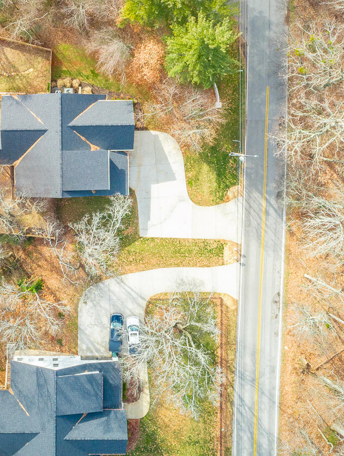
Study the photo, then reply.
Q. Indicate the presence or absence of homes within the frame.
Yes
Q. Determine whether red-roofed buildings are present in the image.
No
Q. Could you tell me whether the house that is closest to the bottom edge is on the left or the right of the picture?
left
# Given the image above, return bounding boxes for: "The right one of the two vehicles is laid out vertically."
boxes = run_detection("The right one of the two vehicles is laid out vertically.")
[125,317,141,357]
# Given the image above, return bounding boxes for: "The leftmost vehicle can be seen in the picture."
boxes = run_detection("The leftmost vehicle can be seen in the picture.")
[109,314,125,353]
